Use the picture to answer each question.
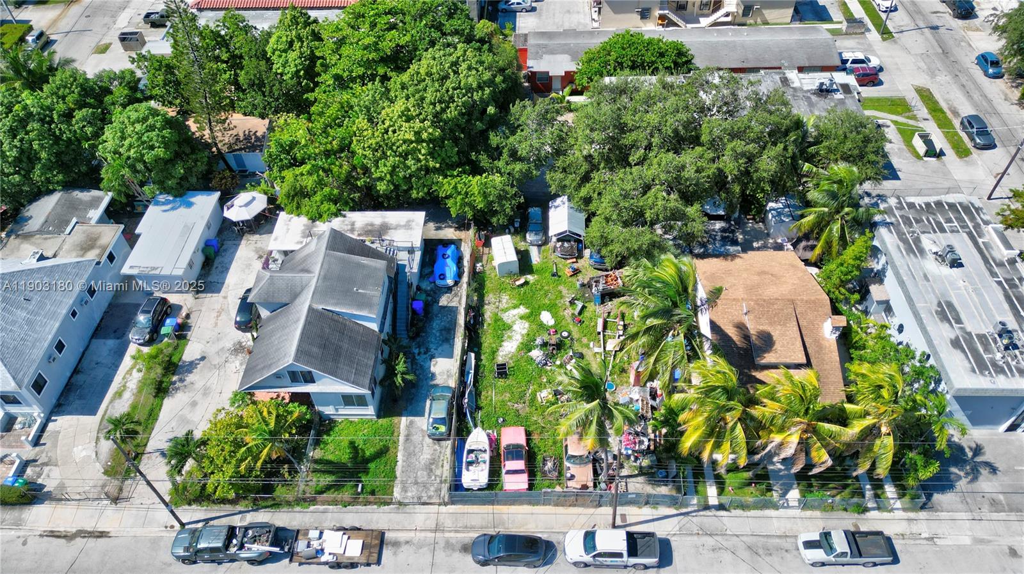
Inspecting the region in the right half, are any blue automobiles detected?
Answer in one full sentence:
Yes, I can see a blue automobile in the right half.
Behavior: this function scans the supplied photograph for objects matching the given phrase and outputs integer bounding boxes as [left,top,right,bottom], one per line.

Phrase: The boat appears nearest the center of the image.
[460,354,475,416]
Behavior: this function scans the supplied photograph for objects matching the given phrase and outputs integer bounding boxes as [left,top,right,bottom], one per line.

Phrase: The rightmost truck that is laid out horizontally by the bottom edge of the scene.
[793,522,899,567]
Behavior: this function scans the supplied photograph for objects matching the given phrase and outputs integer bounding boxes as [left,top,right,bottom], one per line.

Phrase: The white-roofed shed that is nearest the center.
[497,234,517,276]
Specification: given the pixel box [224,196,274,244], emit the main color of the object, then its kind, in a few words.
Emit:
white gazebo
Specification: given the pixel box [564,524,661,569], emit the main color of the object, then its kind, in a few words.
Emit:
white truck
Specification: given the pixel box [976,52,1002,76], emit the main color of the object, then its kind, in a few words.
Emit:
blue car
